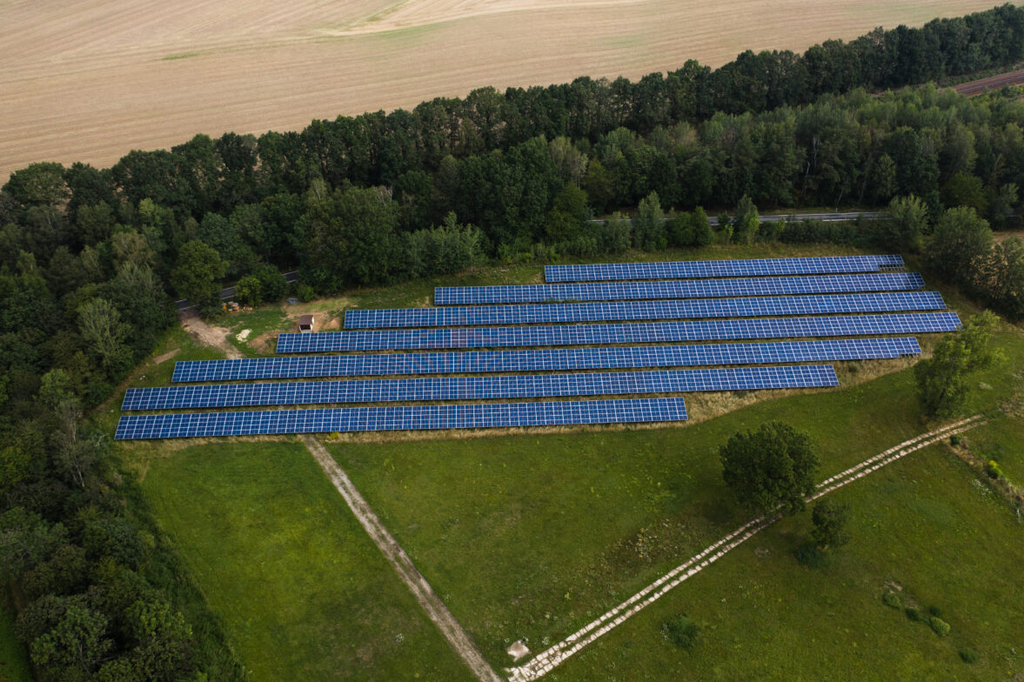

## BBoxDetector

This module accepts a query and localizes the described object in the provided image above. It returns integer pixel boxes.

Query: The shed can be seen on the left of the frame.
[296,312,314,332]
